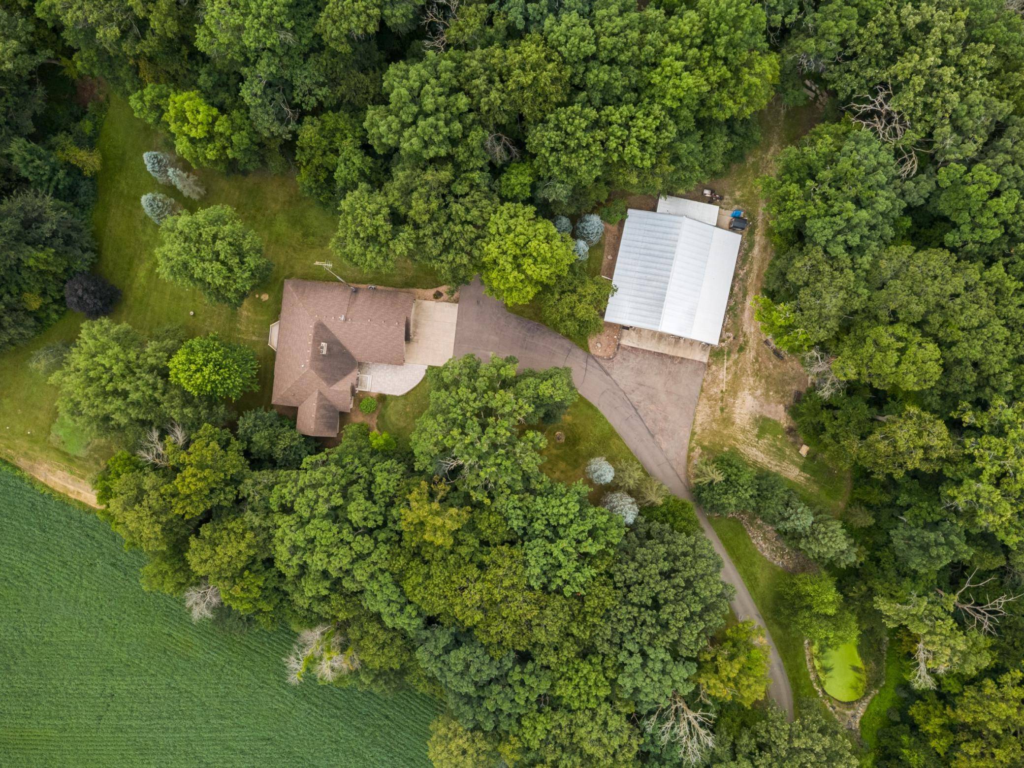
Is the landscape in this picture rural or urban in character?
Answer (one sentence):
It looks rural.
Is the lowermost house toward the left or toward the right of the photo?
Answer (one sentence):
It is on the left.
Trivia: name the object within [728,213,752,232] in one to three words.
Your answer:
vehicle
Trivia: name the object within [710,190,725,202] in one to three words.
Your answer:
vehicle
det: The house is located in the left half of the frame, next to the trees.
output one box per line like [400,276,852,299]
[271,279,416,437]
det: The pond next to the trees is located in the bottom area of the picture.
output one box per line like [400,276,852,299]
[812,619,865,699]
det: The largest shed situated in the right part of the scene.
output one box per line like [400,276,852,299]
[603,208,742,345]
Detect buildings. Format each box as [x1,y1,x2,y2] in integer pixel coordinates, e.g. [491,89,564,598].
[271,279,416,437]
[603,208,742,345]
